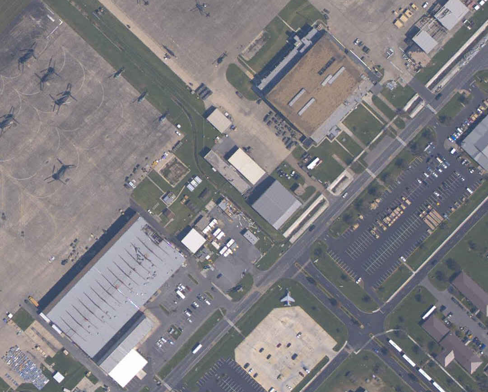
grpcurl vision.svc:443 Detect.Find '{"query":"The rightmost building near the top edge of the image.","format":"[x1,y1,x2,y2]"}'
[435,0,470,30]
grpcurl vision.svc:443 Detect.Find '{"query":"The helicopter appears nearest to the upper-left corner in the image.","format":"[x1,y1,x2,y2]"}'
[13,44,38,72]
